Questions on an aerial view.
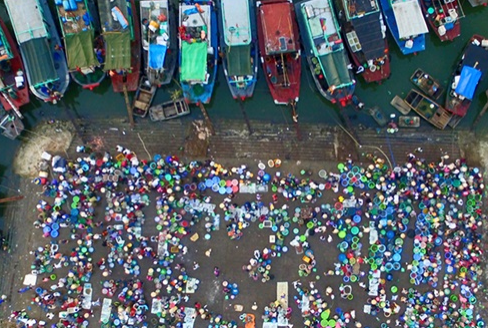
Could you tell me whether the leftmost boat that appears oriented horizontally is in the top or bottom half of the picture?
top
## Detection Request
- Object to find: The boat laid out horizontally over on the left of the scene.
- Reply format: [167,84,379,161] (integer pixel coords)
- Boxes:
[149,99,192,122]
